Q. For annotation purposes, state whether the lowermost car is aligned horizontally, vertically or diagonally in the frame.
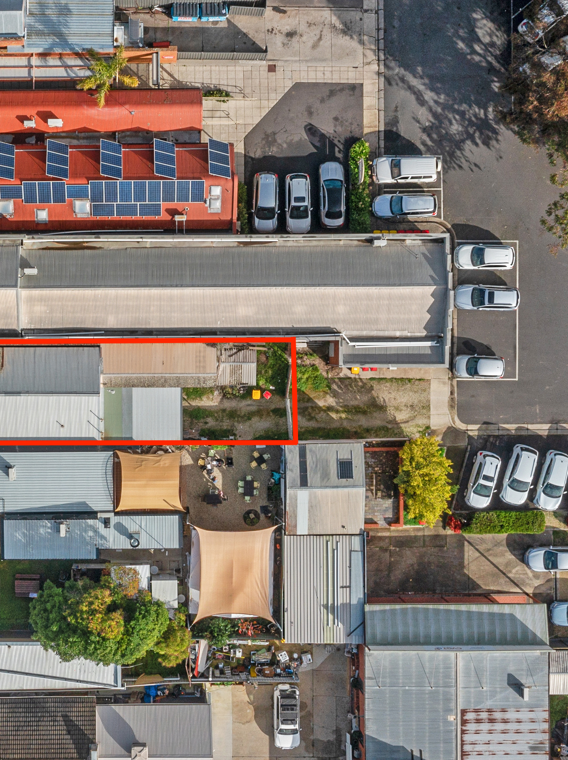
vertically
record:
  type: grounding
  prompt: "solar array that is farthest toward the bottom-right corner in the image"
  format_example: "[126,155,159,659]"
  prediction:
[340,460,355,478]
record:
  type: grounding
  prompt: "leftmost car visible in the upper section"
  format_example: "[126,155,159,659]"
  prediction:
[255,170,285,234]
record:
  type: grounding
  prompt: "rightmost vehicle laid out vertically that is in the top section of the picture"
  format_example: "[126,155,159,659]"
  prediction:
[320,163,351,228]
